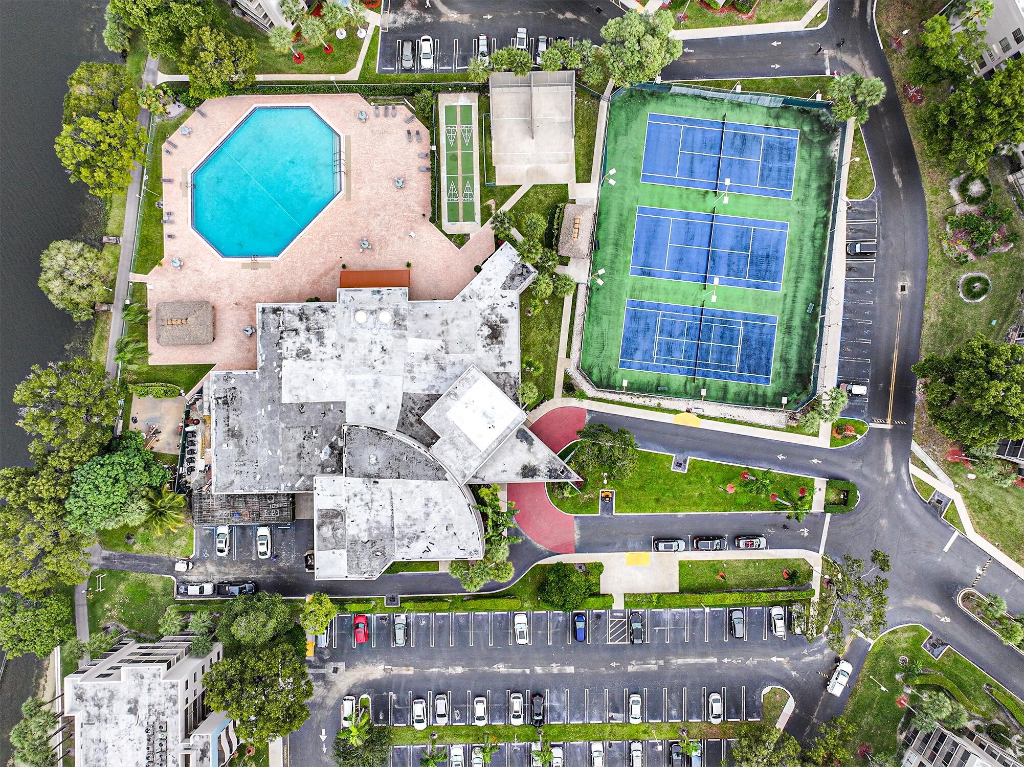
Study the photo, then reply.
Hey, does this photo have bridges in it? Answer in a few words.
No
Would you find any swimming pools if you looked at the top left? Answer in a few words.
Yes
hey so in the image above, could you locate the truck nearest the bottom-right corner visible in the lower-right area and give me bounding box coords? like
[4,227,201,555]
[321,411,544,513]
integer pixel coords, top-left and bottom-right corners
[826,660,854,700]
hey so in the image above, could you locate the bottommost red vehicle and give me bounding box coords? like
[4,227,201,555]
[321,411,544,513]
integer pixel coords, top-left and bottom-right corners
[354,613,368,643]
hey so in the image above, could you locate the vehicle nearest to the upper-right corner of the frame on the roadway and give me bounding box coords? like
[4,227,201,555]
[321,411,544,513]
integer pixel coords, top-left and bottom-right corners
[845,242,878,255]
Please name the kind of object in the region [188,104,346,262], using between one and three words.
swimming pool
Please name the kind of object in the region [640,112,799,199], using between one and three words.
tennis court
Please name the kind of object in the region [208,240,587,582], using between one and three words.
building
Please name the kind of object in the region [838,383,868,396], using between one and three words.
vehicle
